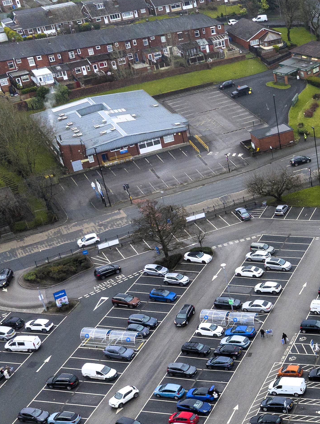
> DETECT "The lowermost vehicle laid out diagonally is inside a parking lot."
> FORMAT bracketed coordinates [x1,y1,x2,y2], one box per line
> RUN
[107,385,140,410]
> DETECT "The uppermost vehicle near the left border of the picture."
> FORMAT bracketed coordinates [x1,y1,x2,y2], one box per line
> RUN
[0,268,15,287]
